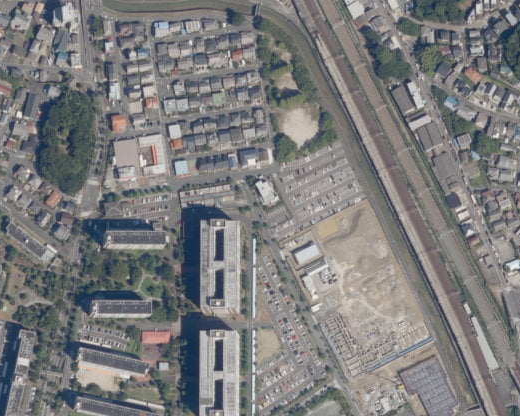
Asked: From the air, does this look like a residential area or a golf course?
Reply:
residential area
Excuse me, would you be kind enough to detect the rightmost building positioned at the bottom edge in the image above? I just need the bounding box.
[199,330,242,416]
